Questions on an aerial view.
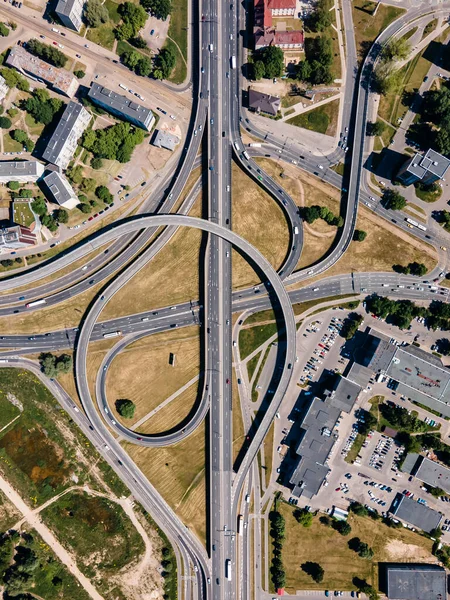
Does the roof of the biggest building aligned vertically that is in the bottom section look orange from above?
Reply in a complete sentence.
No, the roof of the biggest building aligned vertically that is in the bottom section is gray.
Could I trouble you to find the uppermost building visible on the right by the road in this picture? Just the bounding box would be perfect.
[254,0,304,51]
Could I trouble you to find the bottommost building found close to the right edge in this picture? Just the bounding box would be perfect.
[386,565,446,600]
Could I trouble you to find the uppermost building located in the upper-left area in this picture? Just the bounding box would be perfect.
[56,0,87,32]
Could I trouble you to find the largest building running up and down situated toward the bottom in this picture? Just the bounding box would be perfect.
[288,395,342,499]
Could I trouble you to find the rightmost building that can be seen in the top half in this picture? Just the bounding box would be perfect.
[418,148,450,183]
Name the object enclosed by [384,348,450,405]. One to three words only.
building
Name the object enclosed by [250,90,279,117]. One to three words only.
house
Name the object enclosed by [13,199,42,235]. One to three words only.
building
